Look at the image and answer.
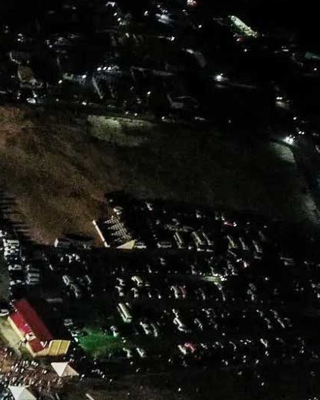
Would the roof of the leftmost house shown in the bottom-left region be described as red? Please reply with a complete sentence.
Yes, the roof of the leftmost house shown in the bottom-left region is red.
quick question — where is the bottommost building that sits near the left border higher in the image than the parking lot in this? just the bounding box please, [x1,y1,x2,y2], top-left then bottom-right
[9,58,46,85]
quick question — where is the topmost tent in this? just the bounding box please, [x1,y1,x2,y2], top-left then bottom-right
[45,361,81,387]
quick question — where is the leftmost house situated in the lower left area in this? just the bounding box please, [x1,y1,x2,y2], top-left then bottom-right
[0,299,67,361]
